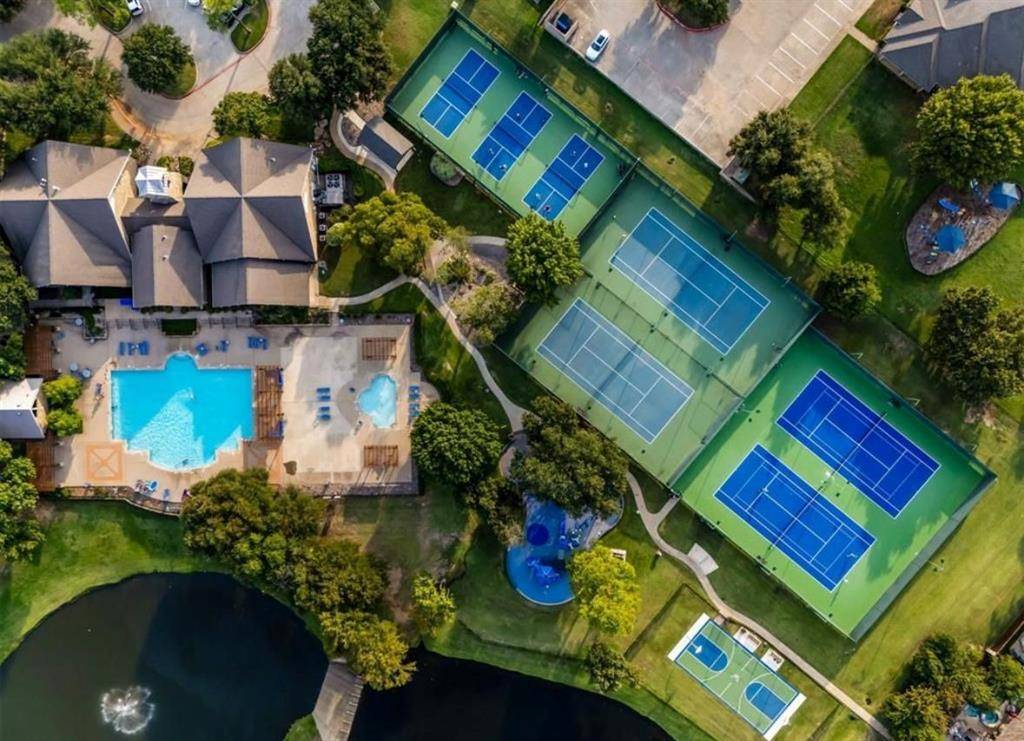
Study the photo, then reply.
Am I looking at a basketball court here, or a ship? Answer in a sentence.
The one in the frame is a basketball court.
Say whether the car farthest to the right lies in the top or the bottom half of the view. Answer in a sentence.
You can find the car farthest to the right in the top half.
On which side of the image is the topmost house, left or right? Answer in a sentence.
The topmost house is on the right side of the image.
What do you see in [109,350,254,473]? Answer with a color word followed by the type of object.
blue swimming pool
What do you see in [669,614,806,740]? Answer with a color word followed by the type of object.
green basketball court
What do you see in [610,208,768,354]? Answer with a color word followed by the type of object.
blue tennis court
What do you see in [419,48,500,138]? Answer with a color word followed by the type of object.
blue sports court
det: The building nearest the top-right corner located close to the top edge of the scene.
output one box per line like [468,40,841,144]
[880,0,1024,96]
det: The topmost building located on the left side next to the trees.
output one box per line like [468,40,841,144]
[360,117,416,173]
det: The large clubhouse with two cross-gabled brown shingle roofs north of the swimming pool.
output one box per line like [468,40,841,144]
[0,136,320,308]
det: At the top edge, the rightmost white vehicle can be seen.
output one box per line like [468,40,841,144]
[588,26,611,60]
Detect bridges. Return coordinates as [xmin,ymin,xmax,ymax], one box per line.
[307,655,364,741]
